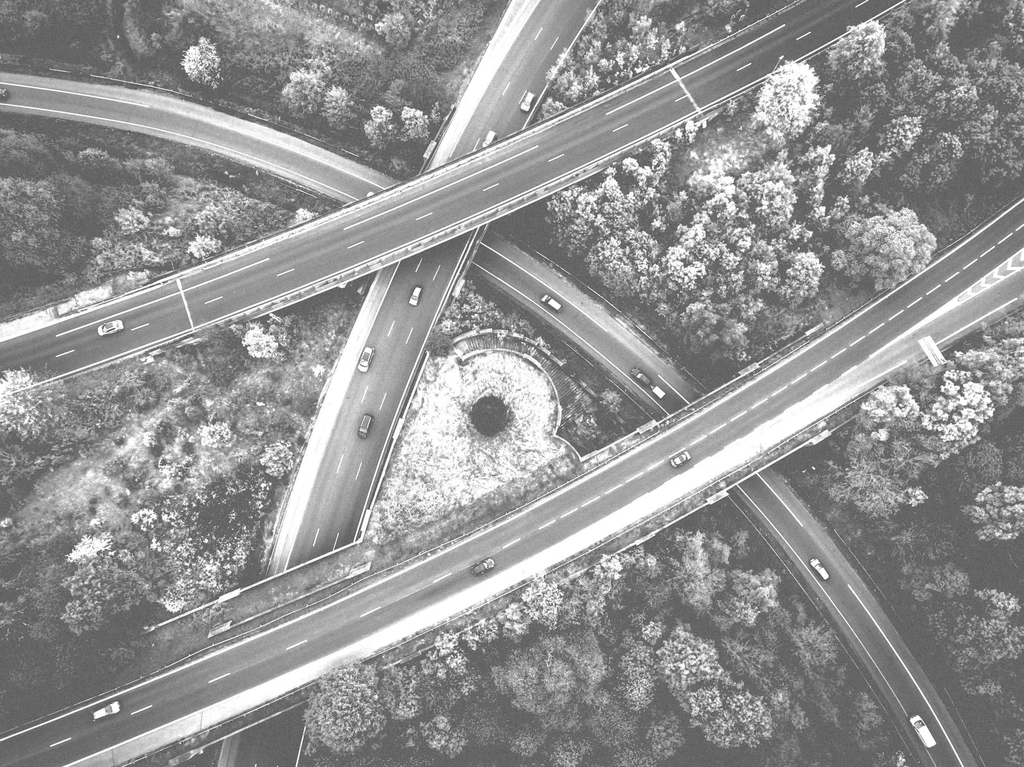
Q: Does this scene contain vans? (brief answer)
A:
Yes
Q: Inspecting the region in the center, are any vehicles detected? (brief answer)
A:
Yes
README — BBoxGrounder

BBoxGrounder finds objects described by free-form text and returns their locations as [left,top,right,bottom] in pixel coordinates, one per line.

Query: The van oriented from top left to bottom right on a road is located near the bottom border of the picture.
[907,714,940,752]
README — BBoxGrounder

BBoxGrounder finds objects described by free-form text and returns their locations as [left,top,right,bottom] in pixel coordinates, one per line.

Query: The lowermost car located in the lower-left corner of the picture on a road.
[90,699,123,724]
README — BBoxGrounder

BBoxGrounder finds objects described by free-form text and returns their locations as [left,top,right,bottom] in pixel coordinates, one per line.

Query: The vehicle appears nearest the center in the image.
[540,294,564,313]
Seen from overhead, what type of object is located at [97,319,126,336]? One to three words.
car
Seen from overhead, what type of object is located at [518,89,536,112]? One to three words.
car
